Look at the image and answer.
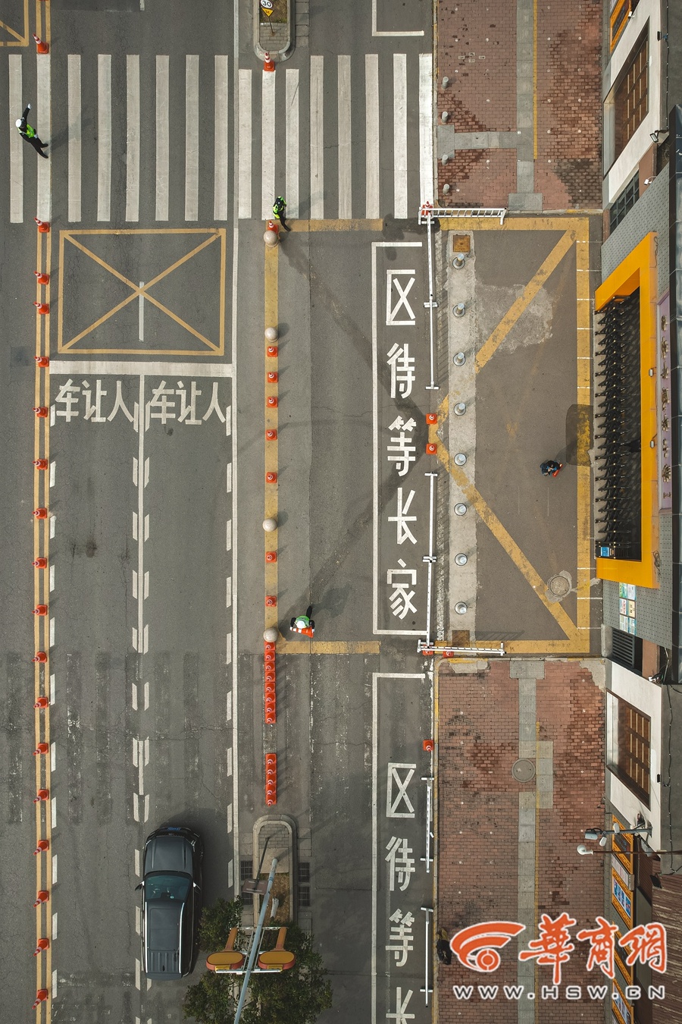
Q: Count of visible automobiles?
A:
1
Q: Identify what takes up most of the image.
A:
paved ground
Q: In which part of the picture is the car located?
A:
bottom left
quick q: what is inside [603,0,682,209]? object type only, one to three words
building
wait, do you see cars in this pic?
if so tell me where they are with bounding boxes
[136,823,203,975]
